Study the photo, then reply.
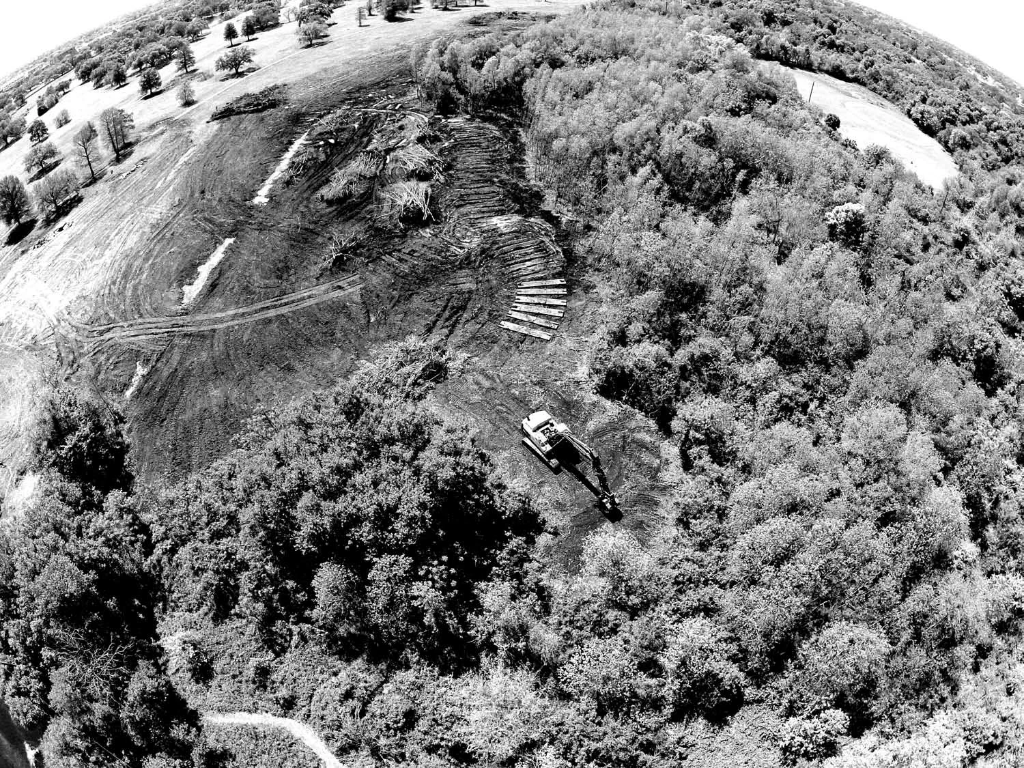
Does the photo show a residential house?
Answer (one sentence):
No, this view has no residential house in it.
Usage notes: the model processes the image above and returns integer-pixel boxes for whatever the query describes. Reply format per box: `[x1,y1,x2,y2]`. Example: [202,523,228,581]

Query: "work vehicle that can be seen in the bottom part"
[520,414,615,516]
